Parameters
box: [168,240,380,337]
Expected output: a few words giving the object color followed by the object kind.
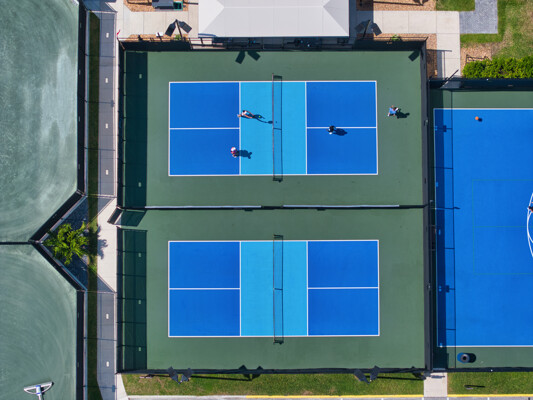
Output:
blue sports court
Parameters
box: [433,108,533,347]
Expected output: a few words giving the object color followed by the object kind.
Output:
blue basketball court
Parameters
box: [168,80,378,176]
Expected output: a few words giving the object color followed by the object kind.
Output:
blue sports court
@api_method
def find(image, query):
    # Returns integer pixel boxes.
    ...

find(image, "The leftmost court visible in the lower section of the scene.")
[0,242,80,400]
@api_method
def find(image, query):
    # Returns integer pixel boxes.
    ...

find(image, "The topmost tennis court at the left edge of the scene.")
[0,0,82,240]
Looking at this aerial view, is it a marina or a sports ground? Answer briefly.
sports ground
